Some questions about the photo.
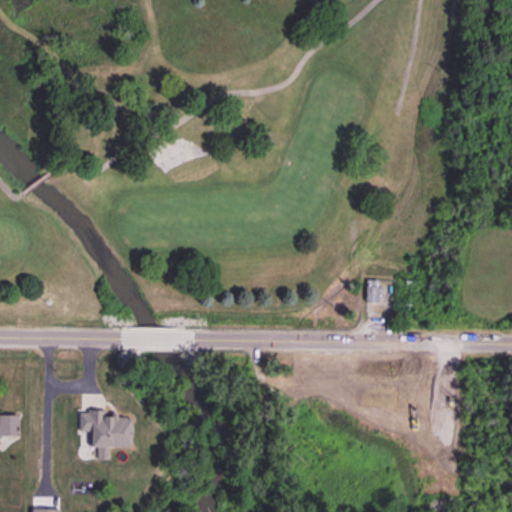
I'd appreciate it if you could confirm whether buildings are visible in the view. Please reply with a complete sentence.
Yes, I can see a building in this picture.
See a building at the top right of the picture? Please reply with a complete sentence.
No, no building is visible at the top right of the picture.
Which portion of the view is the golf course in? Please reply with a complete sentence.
The golf course is located in the top region of the scene.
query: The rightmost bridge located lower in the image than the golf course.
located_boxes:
[122,330,194,350]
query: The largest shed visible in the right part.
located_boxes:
[368,280,382,302]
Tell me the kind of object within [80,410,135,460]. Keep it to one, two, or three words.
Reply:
house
